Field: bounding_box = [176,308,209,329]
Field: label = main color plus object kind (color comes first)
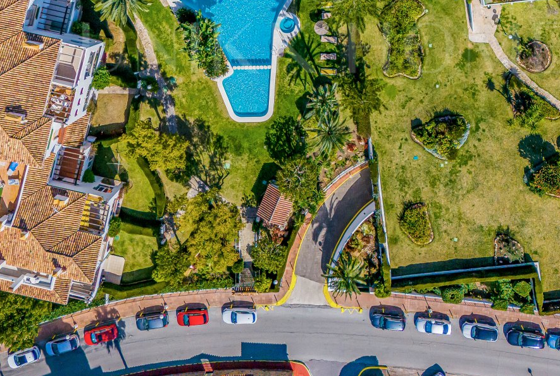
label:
red car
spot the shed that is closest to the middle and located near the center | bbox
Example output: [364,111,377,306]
[256,183,294,228]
